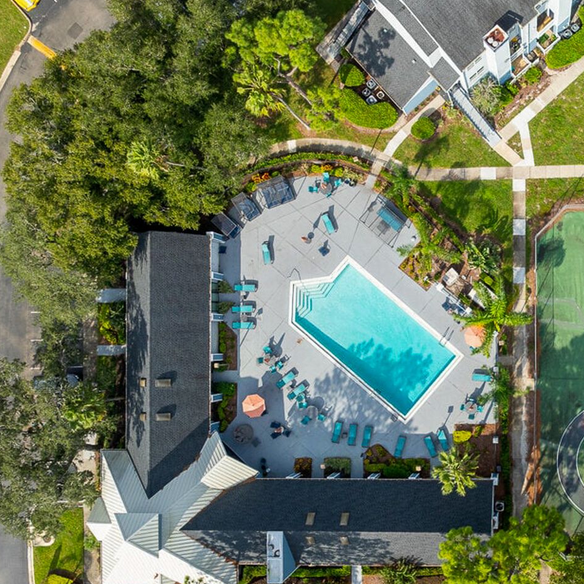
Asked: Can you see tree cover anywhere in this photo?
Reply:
Yes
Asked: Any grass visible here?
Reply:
Yes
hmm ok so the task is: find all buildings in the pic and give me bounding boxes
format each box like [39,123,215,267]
[87,230,494,584]
[346,0,584,115]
